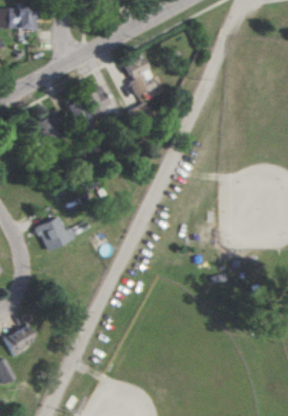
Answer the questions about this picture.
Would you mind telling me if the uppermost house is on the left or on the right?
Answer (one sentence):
The uppermost house appears in the left half of the scene.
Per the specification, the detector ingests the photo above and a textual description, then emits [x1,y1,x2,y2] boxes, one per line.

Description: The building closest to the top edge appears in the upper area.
[0,5,39,42]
